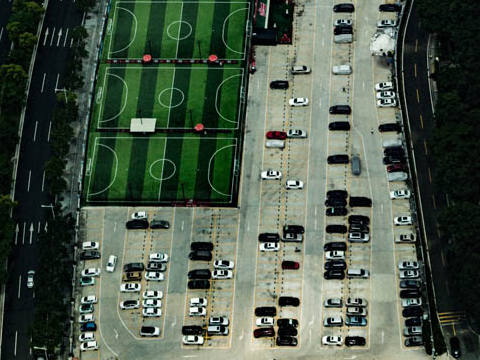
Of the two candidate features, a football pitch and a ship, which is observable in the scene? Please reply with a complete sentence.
The one in the frame is a football pitch.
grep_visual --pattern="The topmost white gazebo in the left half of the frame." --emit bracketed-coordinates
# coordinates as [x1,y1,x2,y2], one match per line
[130,118,156,138]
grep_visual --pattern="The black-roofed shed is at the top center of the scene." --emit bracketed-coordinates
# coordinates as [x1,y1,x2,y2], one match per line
[251,27,272,44]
